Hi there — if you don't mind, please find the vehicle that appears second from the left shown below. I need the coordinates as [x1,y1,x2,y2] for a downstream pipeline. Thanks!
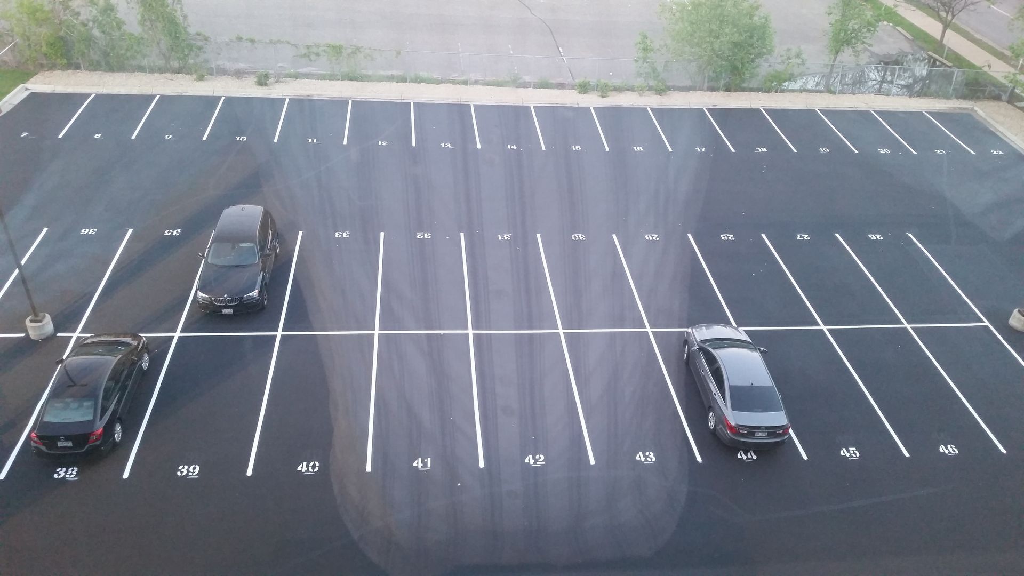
[189,205,276,318]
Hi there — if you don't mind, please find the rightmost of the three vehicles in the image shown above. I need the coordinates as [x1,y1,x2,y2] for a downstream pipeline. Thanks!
[682,324,797,451]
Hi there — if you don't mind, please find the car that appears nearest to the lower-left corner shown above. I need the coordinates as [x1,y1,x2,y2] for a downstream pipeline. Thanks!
[26,332,148,462]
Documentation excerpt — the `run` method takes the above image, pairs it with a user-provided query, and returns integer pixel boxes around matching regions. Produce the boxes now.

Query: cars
[26,332,148,462]
[682,324,797,451]
[189,205,276,318]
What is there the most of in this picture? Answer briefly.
paved ground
